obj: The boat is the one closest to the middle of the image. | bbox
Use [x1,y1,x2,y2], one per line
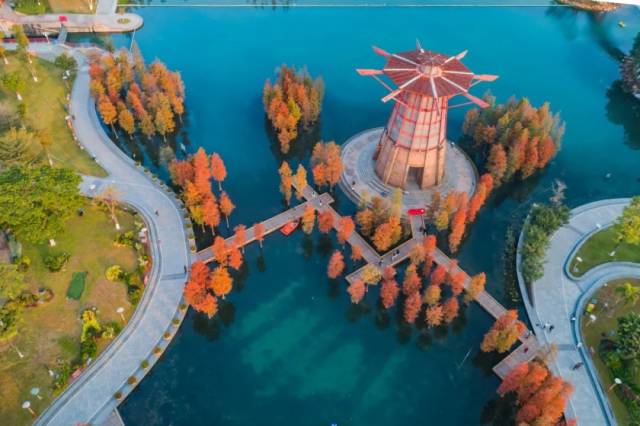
[279,223,299,235]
